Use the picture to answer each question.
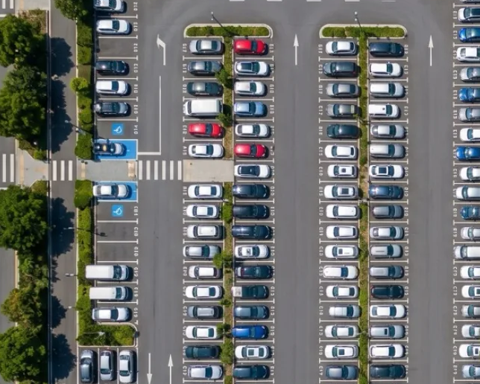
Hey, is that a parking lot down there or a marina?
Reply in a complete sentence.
This image shows a parking lot.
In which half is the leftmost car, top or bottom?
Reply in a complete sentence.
It is in the bottom half that the leftmost car appears.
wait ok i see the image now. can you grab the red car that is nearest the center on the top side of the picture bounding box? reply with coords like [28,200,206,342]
[234,141,268,157]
